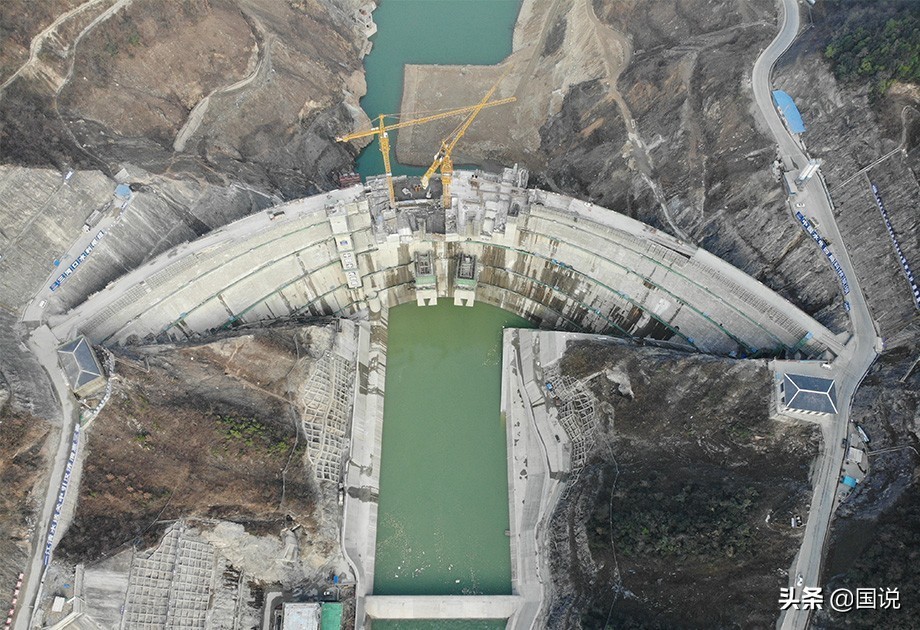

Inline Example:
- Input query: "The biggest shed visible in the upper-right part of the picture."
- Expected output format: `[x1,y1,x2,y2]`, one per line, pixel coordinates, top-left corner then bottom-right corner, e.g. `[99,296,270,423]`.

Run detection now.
[769,90,806,138]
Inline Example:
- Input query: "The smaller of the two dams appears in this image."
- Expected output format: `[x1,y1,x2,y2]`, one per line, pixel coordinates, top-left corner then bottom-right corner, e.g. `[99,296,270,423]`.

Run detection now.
[368,596,525,618]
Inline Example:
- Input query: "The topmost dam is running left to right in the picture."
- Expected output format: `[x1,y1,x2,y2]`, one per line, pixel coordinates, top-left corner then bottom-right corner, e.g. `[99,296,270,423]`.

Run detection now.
[42,165,837,368]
